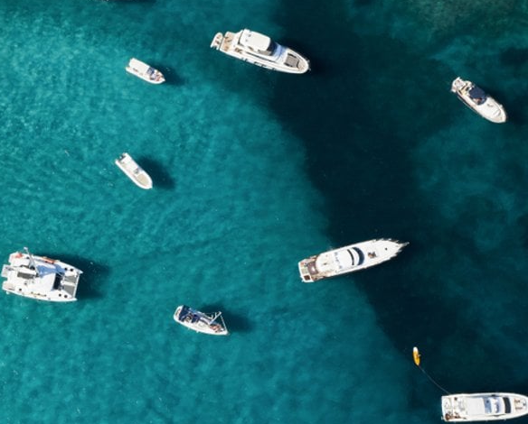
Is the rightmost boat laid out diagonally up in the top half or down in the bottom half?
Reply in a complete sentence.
The rightmost boat laid out diagonally is in the top half of the image.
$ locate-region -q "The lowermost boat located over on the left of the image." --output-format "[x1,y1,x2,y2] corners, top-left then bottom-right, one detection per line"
[176,306,230,335]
